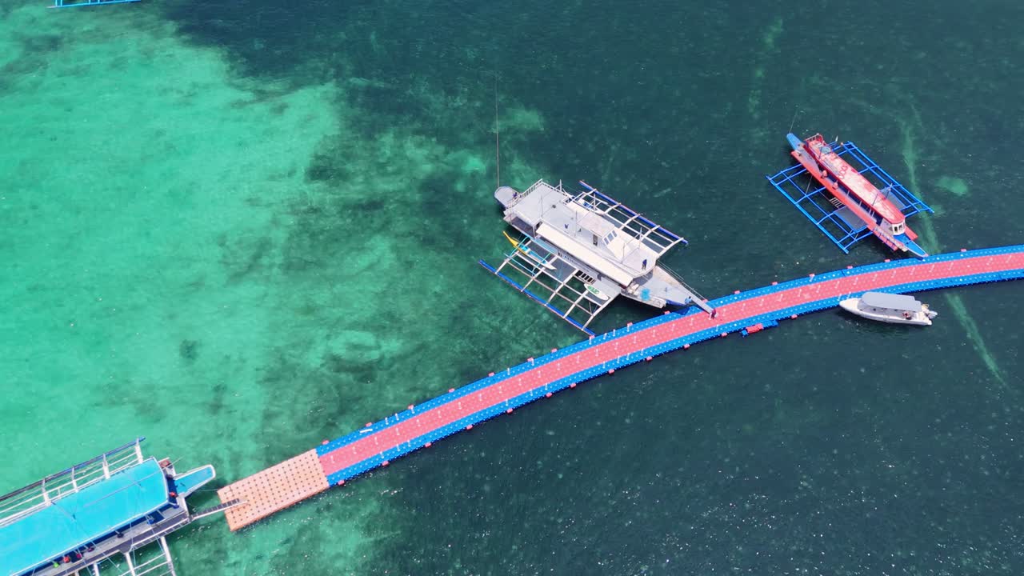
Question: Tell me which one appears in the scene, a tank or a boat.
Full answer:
This aerial view contains a boat.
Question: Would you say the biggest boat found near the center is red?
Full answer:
No, the biggest boat found near the center is white.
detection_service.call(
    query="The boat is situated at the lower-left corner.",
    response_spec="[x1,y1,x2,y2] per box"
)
[0,436,218,576]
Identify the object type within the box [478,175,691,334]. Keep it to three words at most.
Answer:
boat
